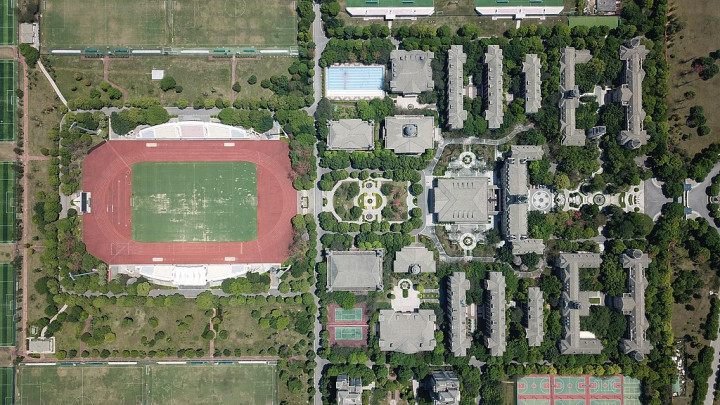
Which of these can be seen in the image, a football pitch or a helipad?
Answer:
football pitch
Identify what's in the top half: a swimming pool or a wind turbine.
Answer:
swimming pool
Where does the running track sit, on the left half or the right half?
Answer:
left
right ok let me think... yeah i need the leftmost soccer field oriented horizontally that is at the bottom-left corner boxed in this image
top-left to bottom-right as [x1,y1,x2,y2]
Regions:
[16,364,147,405]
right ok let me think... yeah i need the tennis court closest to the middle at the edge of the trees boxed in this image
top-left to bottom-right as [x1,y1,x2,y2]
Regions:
[328,306,368,324]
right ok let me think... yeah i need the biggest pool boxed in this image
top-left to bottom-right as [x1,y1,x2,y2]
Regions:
[325,64,385,98]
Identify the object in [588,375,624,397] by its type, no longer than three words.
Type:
basketball court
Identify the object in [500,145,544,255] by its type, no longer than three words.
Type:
building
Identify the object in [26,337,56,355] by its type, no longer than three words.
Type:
building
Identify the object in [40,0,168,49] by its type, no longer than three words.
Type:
soccer field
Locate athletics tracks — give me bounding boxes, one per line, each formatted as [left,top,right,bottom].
[82,141,297,264]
